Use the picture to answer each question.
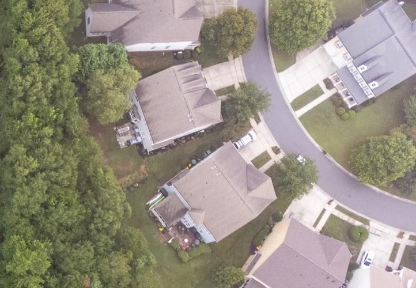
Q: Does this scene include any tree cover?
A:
Yes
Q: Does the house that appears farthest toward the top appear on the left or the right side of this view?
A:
left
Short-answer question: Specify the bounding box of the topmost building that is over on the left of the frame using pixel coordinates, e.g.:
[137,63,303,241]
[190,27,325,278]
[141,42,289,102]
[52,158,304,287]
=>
[85,0,204,51]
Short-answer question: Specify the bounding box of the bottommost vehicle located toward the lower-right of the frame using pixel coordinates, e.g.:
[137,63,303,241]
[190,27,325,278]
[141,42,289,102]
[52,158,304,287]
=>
[358,247,376,268]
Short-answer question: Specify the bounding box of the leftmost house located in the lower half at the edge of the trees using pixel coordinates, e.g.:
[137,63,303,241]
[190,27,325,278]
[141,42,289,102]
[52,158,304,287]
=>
[151,141,278,243]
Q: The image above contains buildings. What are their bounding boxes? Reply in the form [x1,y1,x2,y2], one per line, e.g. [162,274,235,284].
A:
[85,0,204,51]
[237,217,353,288]
[127,61,224,153]
[323,0,416,107]
[151,141,278,243]
[346,265,416,288]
